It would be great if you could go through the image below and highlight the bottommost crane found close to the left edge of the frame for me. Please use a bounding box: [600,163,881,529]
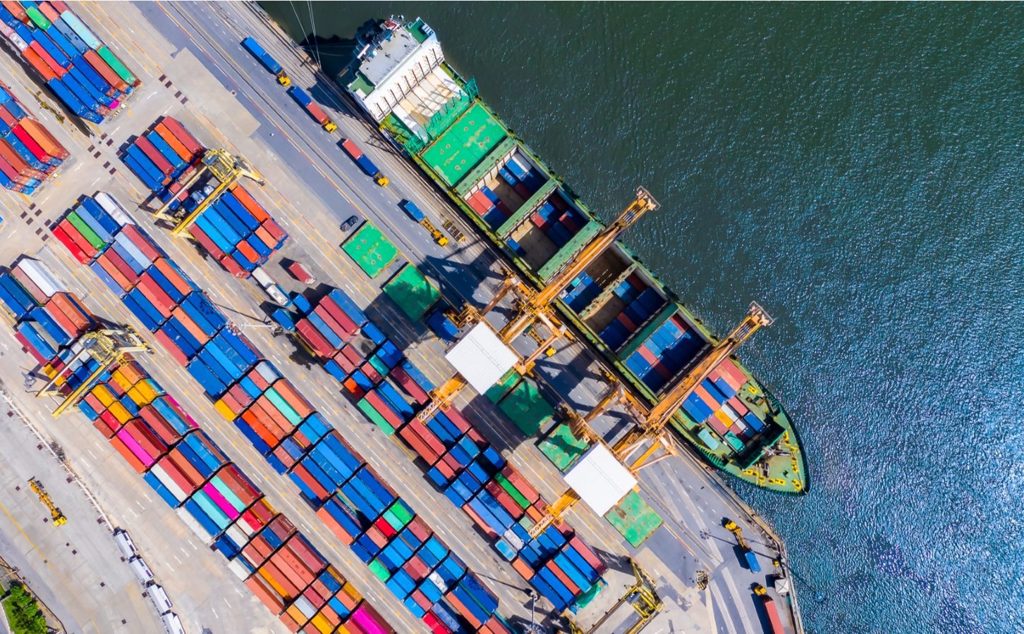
[31,323,157,419]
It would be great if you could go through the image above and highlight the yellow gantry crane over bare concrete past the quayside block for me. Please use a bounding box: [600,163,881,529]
[563,554,664,634]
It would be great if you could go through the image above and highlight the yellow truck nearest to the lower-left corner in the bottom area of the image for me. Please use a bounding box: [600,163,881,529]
[26,477,70,529]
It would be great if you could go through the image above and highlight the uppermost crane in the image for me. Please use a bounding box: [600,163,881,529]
[151,148,268,249]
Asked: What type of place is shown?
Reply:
port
